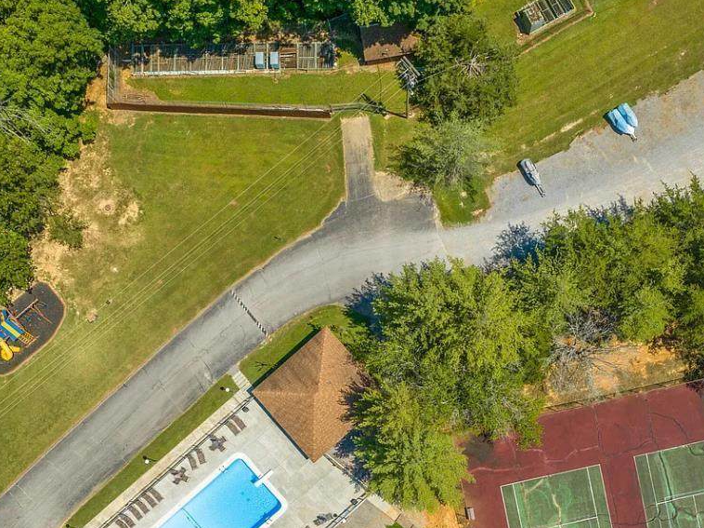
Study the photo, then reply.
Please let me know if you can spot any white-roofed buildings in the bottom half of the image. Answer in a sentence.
No, in the bottom half of the image there is no white-roofed building.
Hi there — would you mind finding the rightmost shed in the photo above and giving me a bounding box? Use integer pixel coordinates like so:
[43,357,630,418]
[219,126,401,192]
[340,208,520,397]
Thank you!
[360,17,422,73]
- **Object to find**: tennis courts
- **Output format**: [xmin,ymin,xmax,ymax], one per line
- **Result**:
[633,441,704,528]
[501,466,612,528]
